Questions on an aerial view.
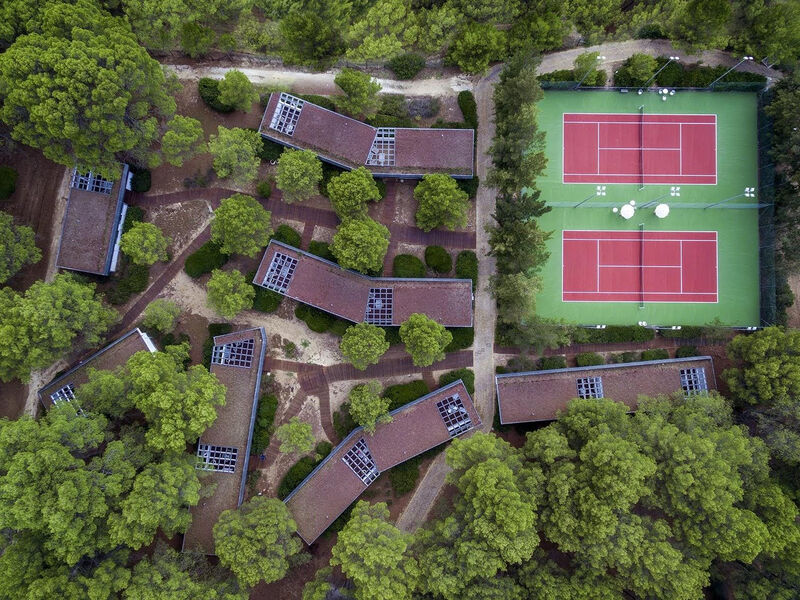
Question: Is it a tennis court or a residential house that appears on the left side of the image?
residential house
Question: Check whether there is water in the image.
No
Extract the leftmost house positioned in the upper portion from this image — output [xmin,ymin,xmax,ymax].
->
[55,163,130,276]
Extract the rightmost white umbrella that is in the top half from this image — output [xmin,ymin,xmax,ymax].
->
[653,204,668,218]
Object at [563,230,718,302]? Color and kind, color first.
red tennis court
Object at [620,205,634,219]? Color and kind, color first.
white umbrella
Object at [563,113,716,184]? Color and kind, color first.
red tennis court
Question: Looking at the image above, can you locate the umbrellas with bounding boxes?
[653,204,668,218]
[620,205,634,219]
